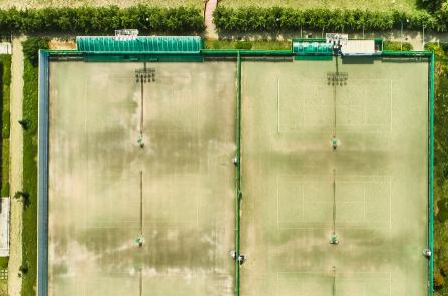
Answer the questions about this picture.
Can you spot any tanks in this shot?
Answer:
No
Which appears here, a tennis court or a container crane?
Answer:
tennis court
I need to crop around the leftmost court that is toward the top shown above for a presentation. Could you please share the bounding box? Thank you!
[49,55,240,154]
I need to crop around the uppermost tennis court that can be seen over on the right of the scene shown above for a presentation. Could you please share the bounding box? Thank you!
[240,55,429,154]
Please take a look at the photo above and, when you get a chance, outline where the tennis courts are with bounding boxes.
[49,250,240,296]
[240,154,429,250]
[240,250,429,296]
[49,55,240,154]
[240,55,429,154]
[49,154,240,250]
